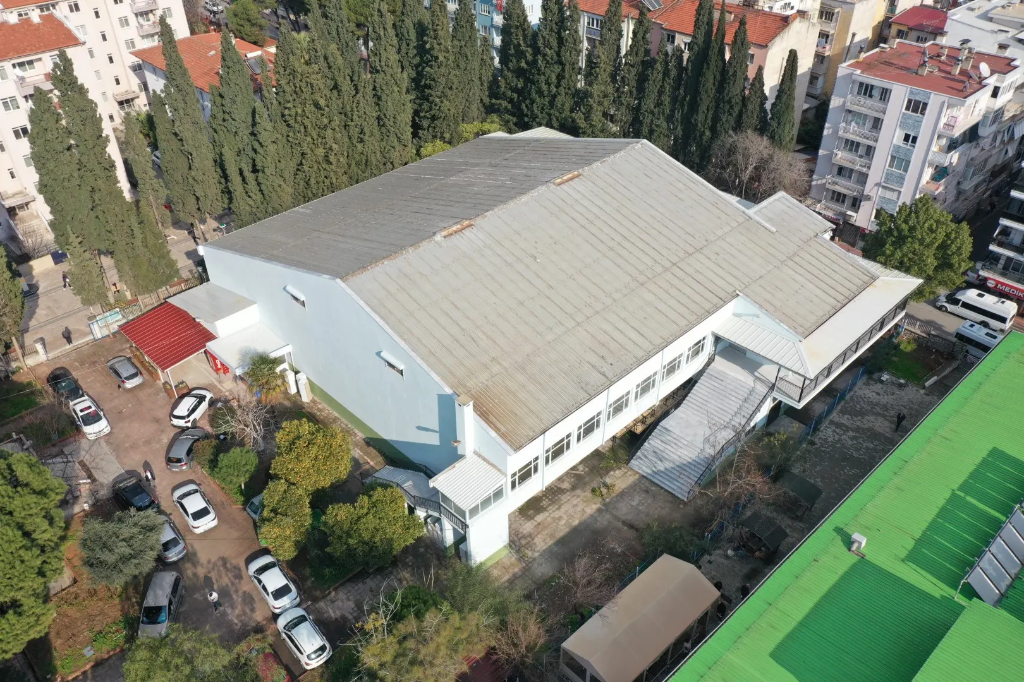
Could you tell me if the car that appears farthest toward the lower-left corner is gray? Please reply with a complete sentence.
Yes, gray is the color of the car that appears farthest toward the lower-left corner.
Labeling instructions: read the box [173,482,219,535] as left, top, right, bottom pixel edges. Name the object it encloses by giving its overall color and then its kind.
white car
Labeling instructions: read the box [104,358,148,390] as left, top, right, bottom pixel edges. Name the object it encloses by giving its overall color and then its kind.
gray car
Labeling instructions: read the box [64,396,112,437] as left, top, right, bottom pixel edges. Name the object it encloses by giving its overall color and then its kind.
white car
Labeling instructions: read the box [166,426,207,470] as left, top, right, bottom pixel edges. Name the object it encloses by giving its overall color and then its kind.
gray car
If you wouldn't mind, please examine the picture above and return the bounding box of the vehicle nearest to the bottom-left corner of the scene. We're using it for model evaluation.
[135,564,185,641]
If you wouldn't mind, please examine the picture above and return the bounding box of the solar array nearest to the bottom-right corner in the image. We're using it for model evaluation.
[946,505,1024,622]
